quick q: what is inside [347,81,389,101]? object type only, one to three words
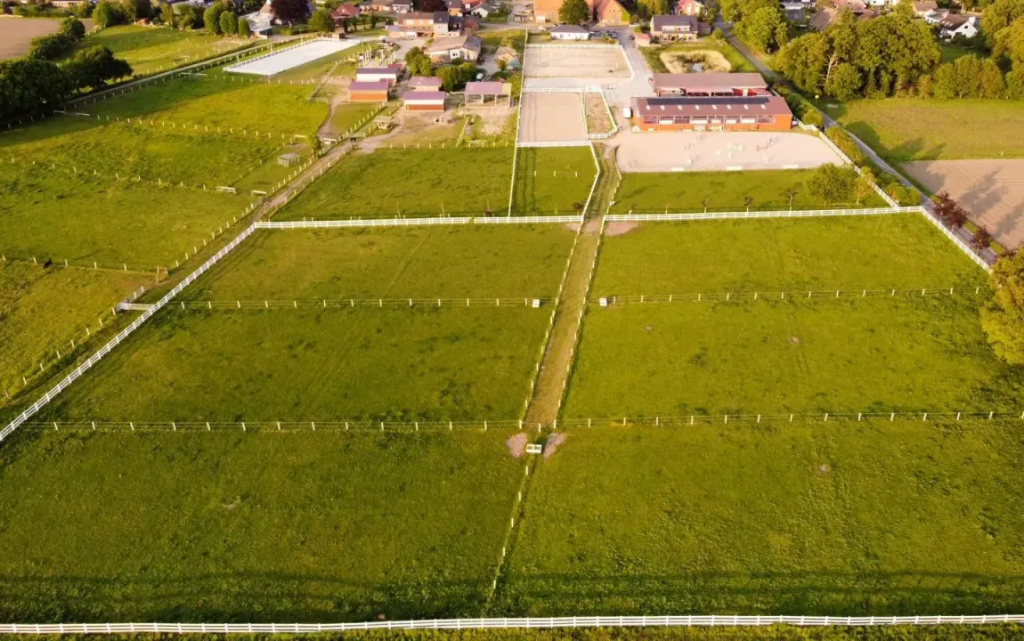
shed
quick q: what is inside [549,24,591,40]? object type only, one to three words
house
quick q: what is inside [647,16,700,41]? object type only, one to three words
house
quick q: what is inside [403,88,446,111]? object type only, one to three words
shed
